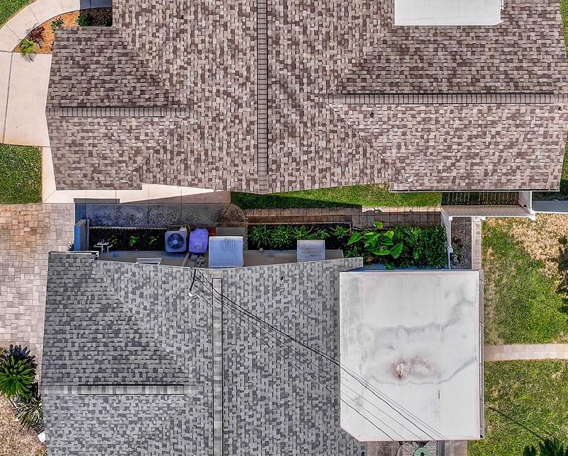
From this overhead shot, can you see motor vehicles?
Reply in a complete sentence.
No, I find no motor vehicle anywhere in the image.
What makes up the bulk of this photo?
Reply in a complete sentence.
Most of the picture is covered by buildings.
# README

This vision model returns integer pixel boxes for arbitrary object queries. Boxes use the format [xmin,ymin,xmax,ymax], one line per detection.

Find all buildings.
[42,235,484,456]
[48,0,568,194]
